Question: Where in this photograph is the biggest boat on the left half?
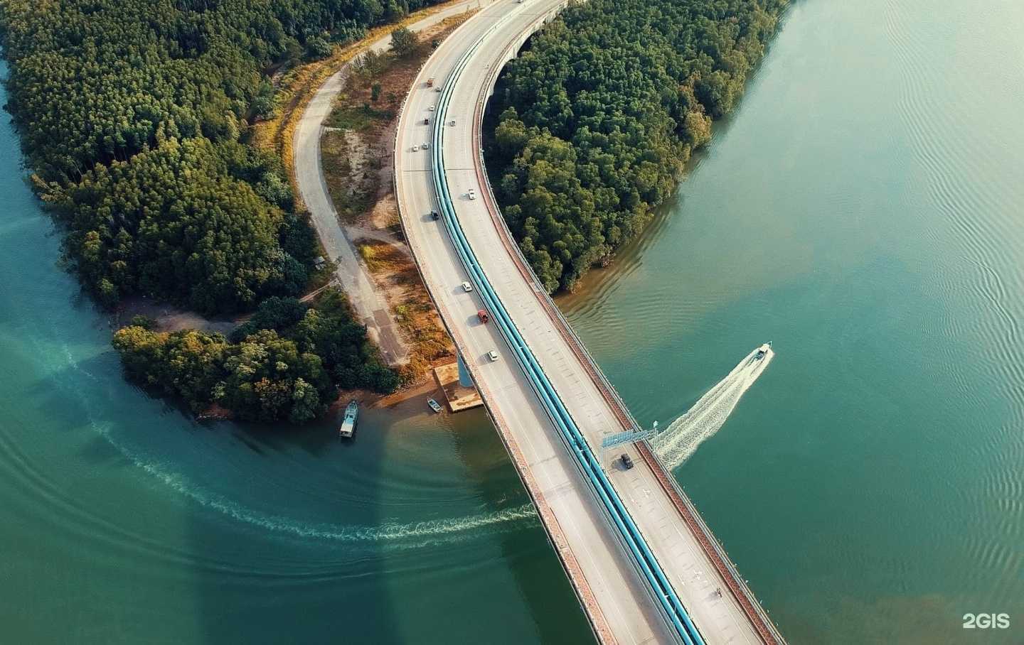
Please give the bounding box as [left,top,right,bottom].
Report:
[338,398,355,436]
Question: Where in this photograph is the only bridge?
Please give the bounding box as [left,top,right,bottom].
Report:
[393,0,789,645]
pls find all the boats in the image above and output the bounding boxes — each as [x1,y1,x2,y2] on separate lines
[428,398,443,414]
[756,339,773,359]
[338,398,355,436]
